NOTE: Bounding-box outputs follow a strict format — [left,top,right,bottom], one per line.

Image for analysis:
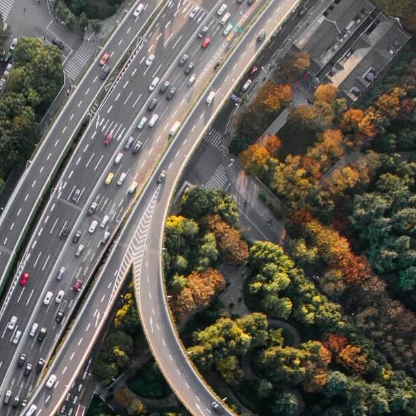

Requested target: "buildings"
[321,11,412,101]
[290,0,375,73]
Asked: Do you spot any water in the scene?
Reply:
No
